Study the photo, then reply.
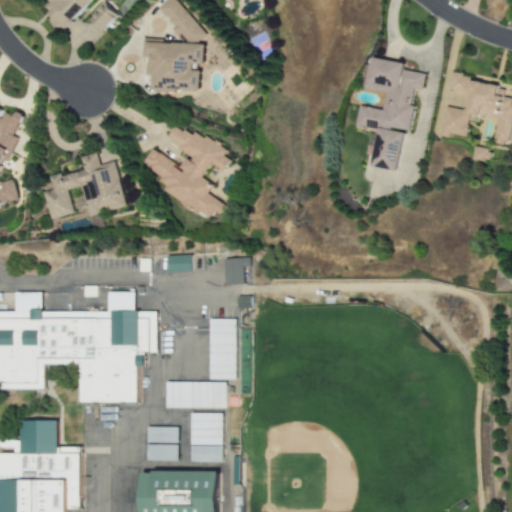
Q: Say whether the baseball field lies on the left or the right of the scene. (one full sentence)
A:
You can find the baseball field on the right side of the picture.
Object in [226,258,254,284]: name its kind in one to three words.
building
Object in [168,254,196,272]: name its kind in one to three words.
shed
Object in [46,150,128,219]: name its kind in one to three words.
house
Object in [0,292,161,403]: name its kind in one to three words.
building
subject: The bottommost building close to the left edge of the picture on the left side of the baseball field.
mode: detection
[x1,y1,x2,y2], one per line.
[0,420,85,512]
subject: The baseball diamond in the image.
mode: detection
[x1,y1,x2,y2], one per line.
[243,300,480,512]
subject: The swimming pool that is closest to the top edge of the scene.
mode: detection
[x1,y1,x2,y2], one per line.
[242,0,264,17]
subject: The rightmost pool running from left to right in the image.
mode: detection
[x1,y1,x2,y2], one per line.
[351,90,385,108]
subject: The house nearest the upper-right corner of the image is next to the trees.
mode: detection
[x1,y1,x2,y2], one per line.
[440,72,512,144]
